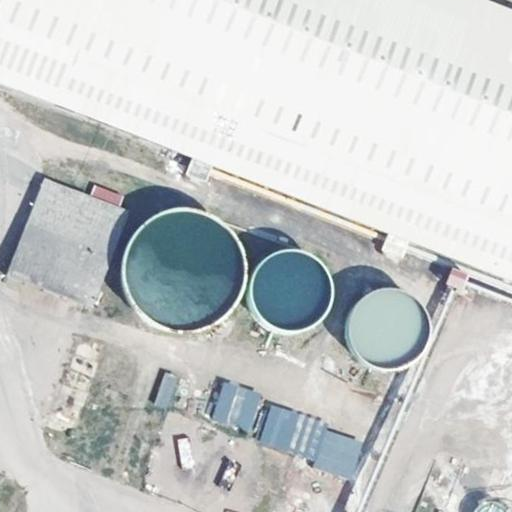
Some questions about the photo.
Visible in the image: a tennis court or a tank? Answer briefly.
tank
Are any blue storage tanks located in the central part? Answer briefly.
Yes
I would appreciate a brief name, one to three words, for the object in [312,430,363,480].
shed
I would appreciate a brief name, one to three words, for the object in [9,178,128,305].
building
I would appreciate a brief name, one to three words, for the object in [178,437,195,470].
vehicle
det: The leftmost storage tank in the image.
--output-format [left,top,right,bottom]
[120,207,248,334]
